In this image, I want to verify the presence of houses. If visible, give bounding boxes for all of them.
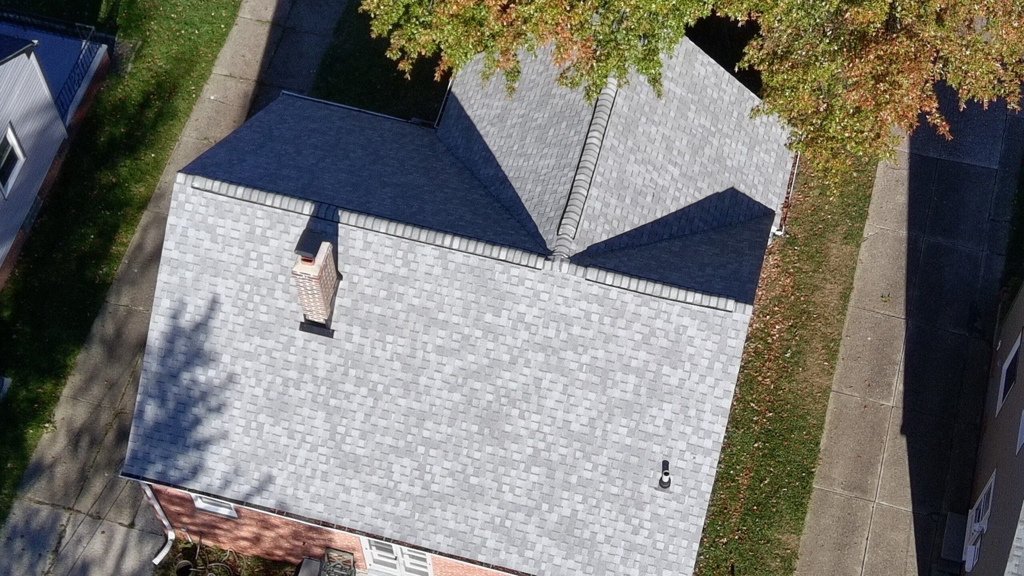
[0,1,114,287]
[124,5,802,576]
[940,276,1024,576]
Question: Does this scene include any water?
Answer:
No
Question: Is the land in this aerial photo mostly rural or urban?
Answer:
urban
